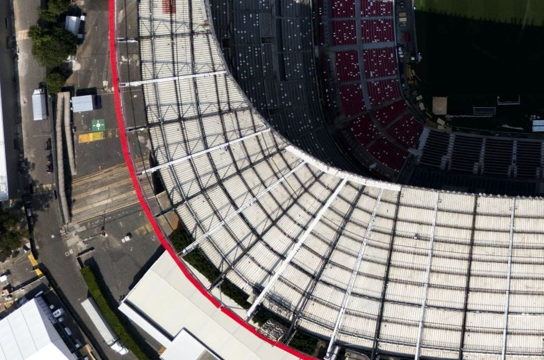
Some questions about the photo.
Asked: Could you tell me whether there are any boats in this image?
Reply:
No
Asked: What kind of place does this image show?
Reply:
sports ground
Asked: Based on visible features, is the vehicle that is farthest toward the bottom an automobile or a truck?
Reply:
truck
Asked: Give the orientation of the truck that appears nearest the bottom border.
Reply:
diagonally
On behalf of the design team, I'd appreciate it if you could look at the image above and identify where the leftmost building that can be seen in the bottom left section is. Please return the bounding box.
[0,285,94,360]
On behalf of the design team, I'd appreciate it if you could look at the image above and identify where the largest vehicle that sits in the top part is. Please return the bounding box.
[29,89,45,121]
